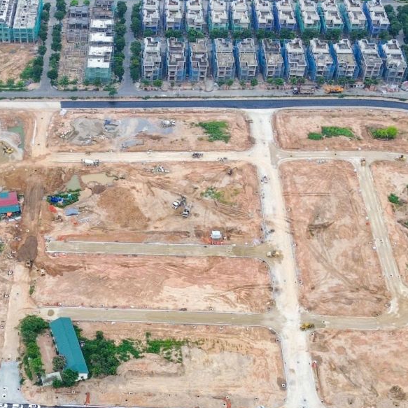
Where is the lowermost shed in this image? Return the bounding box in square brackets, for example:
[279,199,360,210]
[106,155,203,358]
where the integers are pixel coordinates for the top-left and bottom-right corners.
[53,316,90,378]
